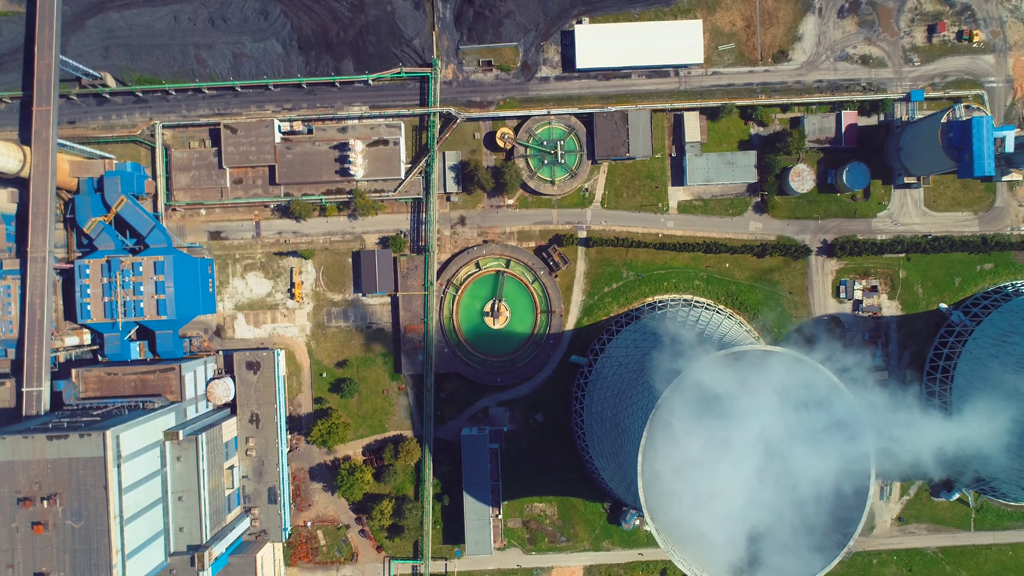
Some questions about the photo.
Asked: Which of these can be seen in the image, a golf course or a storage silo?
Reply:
storage silo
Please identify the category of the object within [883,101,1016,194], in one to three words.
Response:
silo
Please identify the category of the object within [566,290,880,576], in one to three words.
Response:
cooling tower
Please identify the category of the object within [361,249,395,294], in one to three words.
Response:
shed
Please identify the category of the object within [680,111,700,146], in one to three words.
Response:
building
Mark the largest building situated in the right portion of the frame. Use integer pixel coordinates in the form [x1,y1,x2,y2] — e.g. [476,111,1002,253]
[574,18,704,72]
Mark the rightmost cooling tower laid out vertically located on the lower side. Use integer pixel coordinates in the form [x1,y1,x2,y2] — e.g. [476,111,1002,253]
[918,272,1024,507]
